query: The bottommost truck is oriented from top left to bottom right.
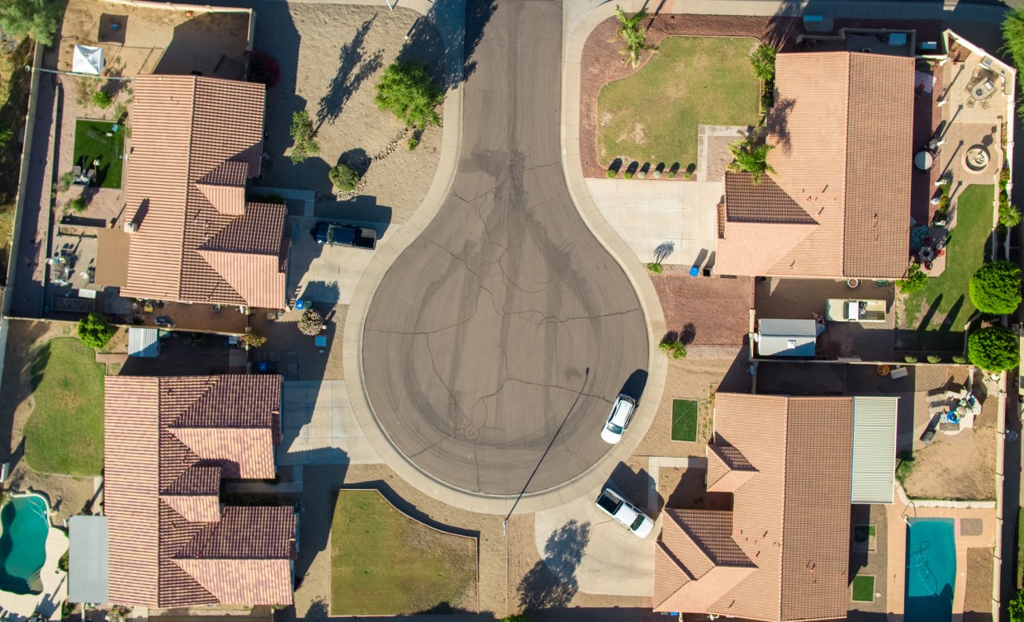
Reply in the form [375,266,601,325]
[596,488,655,539]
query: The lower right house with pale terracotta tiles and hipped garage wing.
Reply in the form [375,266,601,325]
[653,396,904,622]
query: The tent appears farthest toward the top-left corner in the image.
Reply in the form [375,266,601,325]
[58,39,97,75]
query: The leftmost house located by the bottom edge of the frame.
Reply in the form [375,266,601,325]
[103,381,302,617]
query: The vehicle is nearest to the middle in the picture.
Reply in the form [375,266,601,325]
[603,394,637,444]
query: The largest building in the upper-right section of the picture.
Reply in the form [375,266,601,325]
[715,50,914,281]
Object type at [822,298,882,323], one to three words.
truck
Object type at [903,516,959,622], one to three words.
swimming pool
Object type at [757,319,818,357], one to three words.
shed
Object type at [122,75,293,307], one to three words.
house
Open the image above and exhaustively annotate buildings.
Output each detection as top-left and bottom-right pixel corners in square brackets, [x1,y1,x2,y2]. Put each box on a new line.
[715,50,914,281]
[653,396,904,622]
[122,75,293,307]
[103,381,302,617]
[757,319,818,357]
[0,464,9,486]
[121,327,159,356]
